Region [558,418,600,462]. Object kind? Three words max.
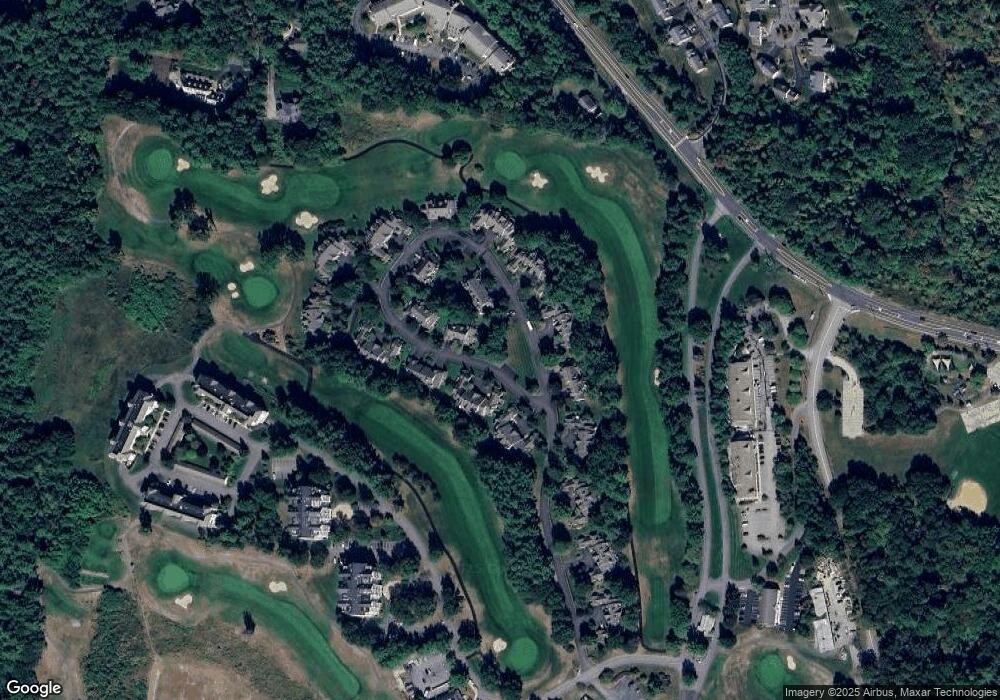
house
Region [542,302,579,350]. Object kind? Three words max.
house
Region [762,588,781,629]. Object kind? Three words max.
building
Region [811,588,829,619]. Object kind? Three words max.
shed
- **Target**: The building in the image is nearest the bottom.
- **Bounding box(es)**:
[394,651,465,700]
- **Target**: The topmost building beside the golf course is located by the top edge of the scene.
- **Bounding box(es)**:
[365,0,519,79]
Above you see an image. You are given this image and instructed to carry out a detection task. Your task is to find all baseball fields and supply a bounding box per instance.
[817,396,1000,527]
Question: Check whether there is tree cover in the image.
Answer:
Yes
